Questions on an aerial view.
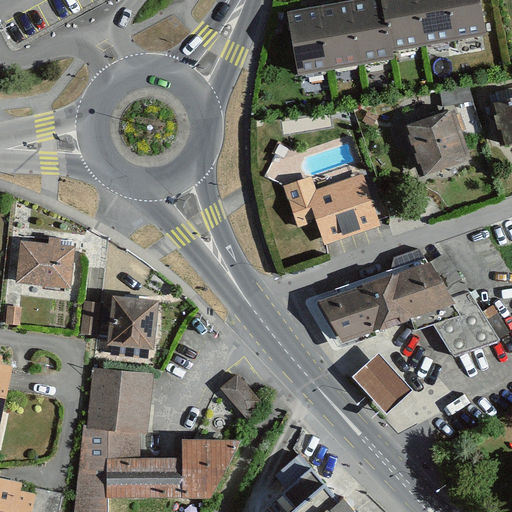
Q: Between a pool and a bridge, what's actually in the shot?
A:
pool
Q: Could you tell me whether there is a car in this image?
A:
Yes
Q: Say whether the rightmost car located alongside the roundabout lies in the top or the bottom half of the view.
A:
top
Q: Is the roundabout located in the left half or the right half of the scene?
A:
left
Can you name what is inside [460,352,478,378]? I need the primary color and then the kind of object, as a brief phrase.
white car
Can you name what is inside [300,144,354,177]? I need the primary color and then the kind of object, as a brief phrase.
blue swimming pool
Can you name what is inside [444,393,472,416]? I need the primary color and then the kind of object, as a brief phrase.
white camper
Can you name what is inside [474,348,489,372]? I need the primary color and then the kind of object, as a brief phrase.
white car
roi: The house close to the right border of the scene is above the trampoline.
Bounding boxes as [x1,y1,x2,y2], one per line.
[382,0,488,48]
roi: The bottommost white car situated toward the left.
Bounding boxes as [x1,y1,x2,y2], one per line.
[184,406,200,428]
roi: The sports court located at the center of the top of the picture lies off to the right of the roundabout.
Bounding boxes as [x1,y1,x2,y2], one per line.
[282,115,334,136]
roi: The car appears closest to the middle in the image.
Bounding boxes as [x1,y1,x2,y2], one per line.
[192,316,208,335]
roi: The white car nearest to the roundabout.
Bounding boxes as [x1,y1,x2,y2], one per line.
[181,33,205,56]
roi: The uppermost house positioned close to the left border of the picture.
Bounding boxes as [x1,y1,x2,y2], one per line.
[16,240,75,290]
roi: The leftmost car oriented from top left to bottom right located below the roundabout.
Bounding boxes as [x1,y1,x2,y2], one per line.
[116,270,142,290]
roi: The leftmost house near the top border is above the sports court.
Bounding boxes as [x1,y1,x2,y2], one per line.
[287,0,395,74]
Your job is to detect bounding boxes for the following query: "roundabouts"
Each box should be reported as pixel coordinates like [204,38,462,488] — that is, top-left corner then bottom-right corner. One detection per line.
[76,54,223,200]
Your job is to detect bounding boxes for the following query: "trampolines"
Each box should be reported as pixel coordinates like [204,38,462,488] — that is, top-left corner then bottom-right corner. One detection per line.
[433,58,452,77]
